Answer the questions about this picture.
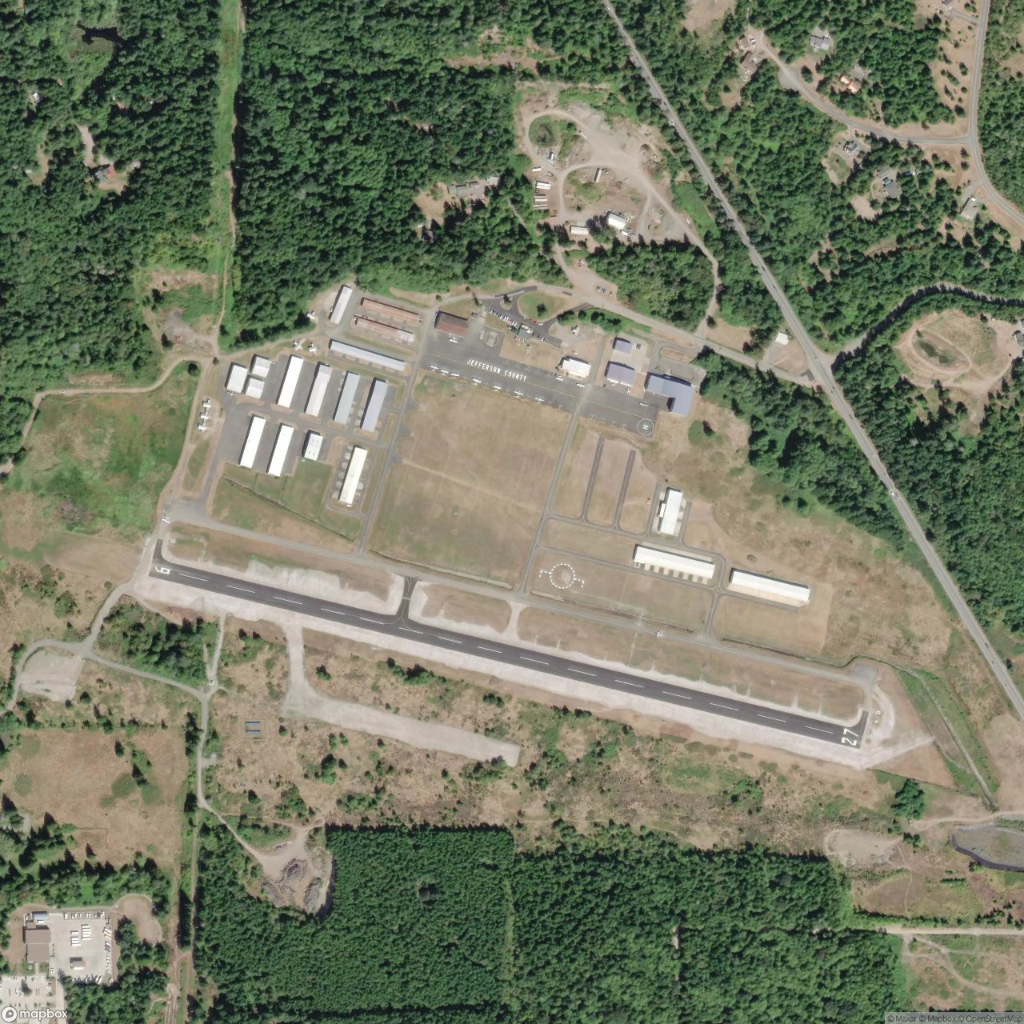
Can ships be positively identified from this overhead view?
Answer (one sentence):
No, the frame has no ship in it.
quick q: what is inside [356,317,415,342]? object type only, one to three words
hangar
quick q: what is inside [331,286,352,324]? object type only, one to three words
hangar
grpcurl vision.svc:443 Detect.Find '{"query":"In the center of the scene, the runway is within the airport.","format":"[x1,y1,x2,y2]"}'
[149,459,868,749]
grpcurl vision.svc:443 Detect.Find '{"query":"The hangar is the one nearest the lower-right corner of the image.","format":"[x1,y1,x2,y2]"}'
[731,570,811,601]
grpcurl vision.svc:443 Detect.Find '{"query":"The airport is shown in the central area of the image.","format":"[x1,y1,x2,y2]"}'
[149,239,878,749]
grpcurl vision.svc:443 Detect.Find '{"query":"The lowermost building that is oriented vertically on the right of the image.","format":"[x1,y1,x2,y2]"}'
[660,489,683,535]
